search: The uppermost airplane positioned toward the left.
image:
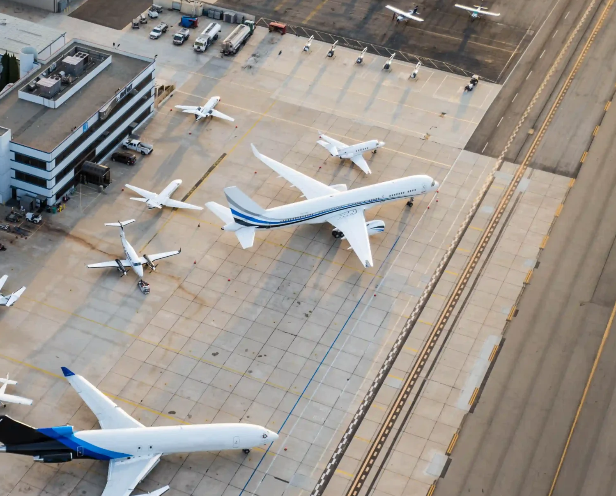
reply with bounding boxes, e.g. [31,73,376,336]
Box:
[177,101,234,124]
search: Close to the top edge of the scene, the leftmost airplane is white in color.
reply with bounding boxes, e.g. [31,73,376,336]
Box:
[384,6,424,26]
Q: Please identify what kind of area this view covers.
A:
airport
